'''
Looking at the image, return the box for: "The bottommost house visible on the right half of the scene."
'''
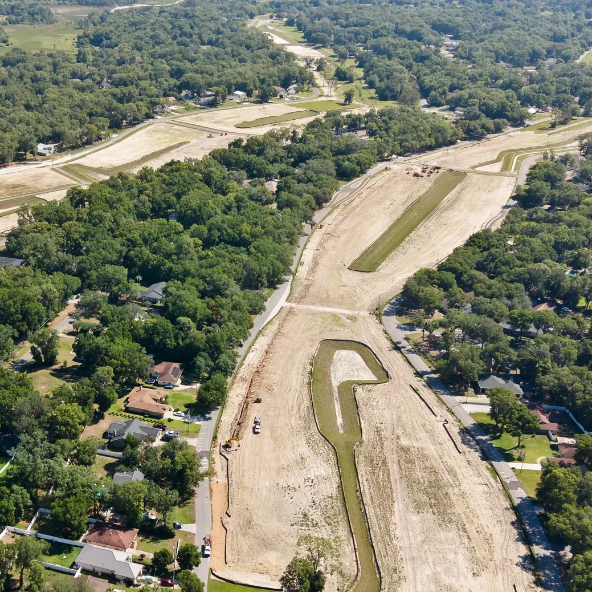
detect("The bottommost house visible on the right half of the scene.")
[534,436,573,470]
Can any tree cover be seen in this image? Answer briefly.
Yes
